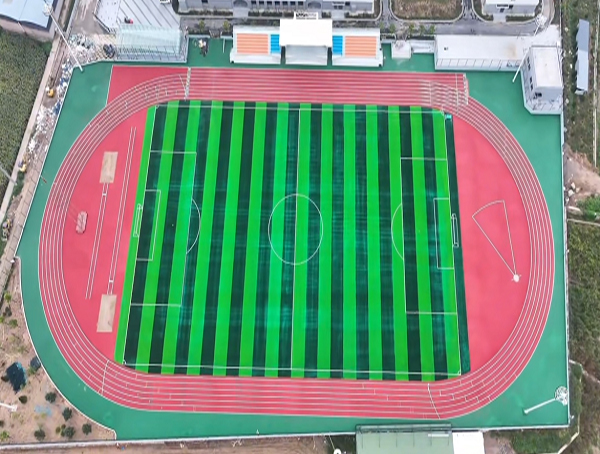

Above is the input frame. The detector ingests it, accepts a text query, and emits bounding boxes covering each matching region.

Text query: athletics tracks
[39,64,554,419]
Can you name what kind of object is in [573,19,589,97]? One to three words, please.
shed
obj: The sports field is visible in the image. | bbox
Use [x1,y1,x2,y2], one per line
[114,99,470,383]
